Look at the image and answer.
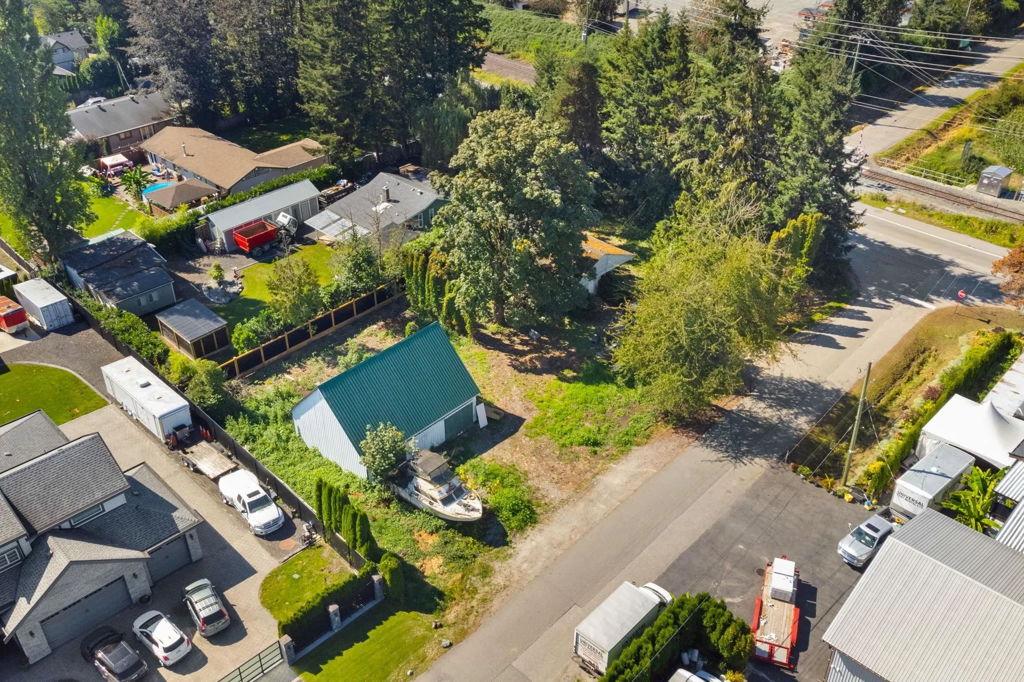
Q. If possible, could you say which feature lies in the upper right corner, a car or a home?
home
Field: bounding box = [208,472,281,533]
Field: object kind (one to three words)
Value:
truck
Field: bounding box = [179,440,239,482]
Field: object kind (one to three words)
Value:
trailer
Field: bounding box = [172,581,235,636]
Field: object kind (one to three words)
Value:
car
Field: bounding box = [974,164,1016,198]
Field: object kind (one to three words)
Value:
house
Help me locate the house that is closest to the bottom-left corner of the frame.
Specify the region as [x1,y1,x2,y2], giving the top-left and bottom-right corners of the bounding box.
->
[0,410,208,667]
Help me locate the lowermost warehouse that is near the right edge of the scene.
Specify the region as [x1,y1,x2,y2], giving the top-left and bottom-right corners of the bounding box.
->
[818,509,1024,682]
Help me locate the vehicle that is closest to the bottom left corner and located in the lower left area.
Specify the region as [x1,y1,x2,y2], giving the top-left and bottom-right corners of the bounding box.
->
[75,635,145,682]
